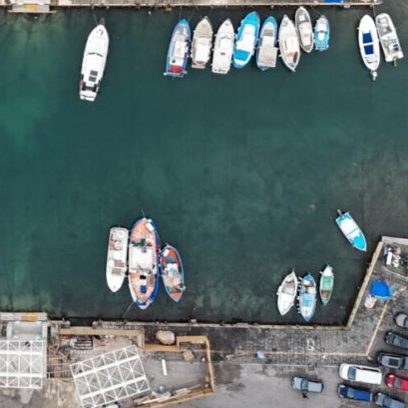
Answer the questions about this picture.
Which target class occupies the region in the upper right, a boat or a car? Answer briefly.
boat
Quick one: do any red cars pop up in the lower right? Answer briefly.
Yes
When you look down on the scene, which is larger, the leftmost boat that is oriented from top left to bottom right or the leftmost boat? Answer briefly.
the leftmost boat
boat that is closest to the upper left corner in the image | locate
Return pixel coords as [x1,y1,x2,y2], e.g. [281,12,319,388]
[77,7,109,105]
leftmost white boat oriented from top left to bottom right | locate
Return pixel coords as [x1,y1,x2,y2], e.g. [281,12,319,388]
[338,210,368,250]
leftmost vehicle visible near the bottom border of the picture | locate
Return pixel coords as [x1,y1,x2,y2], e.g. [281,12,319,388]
[289,374,323,391]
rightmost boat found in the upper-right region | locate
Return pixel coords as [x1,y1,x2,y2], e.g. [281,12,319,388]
[376,2,403,66]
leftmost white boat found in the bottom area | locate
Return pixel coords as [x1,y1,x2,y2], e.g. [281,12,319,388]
[106,226,129,293]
